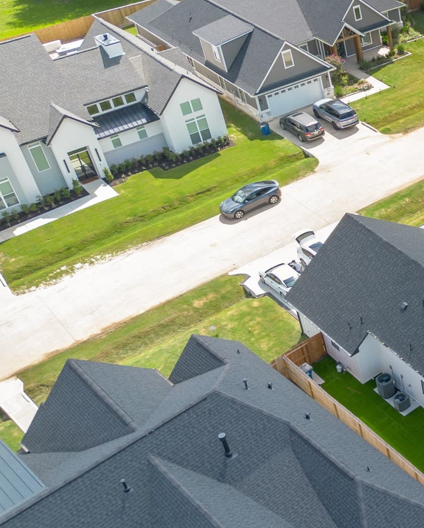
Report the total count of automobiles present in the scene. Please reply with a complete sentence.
There are 5 automobiles in the image.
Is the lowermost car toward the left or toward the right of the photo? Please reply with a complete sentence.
The lowermost car is on the right side of the image.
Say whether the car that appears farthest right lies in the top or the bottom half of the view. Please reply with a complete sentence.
The top half of the photo is where the car that appears farthest right is.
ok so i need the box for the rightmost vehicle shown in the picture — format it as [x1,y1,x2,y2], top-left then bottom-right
[312,100,358,129]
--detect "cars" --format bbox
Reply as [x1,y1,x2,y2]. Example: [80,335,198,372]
[257,259,302,299]
[294,225,328,265]
[312,100,358,129]
[278,110,327,140]
[214,179,281,219]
